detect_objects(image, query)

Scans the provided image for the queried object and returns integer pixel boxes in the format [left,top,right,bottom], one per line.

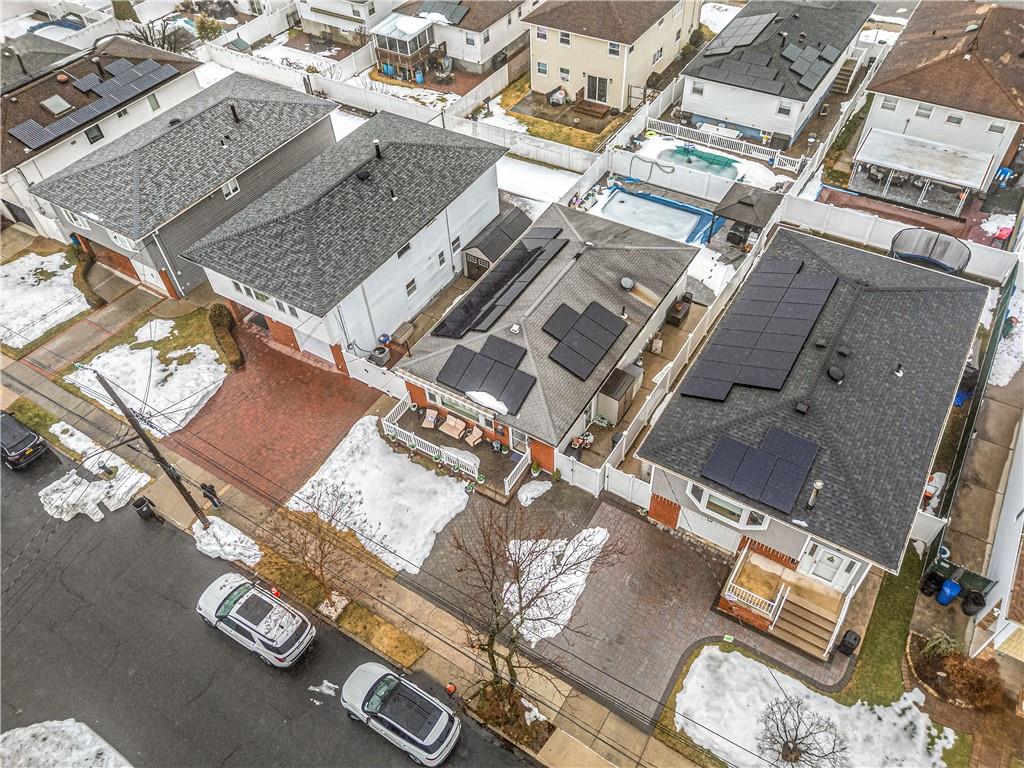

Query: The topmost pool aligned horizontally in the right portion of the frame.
[643,145,749,184]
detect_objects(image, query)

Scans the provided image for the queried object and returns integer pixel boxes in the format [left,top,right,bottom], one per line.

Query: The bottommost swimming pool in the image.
[593,182,735,248]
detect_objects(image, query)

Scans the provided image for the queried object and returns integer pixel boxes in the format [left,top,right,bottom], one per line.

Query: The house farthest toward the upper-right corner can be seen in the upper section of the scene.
[857,0,1024,164]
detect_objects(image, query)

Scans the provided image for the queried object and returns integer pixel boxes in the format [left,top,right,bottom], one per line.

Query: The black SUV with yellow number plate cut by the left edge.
[0,400,47,468]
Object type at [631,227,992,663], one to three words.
house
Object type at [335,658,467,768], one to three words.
car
